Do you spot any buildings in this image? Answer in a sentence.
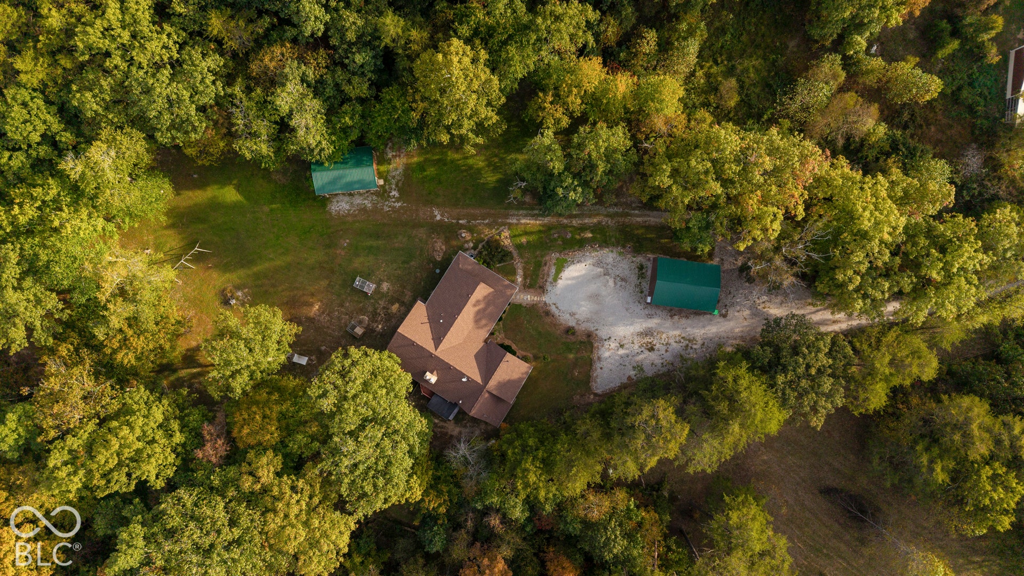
Yes, I can see a building in this picture.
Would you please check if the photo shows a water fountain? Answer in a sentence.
No, there appears to be no water fountain in this shot.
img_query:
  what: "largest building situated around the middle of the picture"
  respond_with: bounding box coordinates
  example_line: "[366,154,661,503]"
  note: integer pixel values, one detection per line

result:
[381,251,533,428]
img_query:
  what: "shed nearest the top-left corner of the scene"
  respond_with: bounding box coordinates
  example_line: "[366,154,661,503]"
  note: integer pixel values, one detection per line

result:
[309,145,381,196]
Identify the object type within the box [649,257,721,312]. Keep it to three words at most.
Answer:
building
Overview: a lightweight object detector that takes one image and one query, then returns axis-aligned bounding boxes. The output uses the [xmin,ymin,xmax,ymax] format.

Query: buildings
[381,251,533,428]
[309,145,381,196]
[649,257,721,312]
[1005,42,1024,126]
